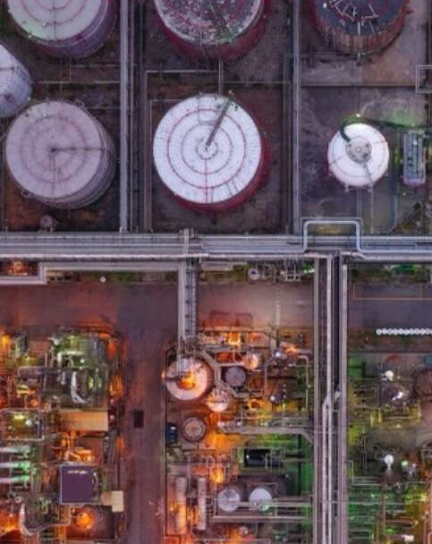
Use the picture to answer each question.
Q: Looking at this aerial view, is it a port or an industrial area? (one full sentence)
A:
What you see here is an industrial area.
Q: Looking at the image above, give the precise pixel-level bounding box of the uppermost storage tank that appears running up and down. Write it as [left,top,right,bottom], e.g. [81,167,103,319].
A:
[0,39,39,129]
